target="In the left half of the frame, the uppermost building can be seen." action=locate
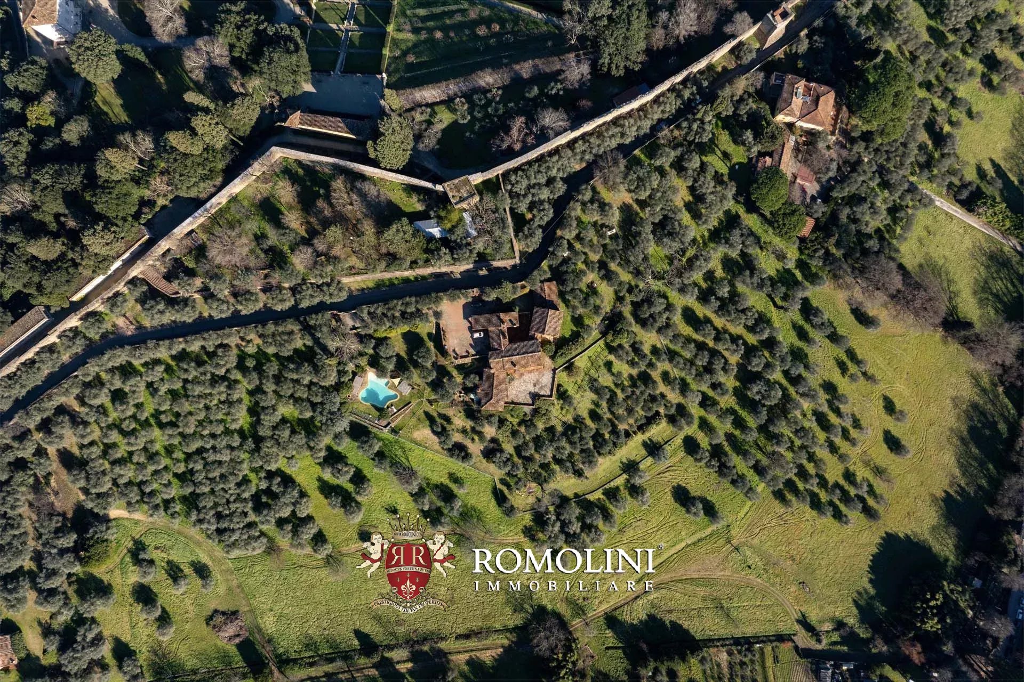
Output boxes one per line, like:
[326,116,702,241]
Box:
[21,0,74,36]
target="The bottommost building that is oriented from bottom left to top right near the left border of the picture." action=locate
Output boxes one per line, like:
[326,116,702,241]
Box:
[0,305,58,363]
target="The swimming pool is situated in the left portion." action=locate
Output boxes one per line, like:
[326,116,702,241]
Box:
[358,371,401,409]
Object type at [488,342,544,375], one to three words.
house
